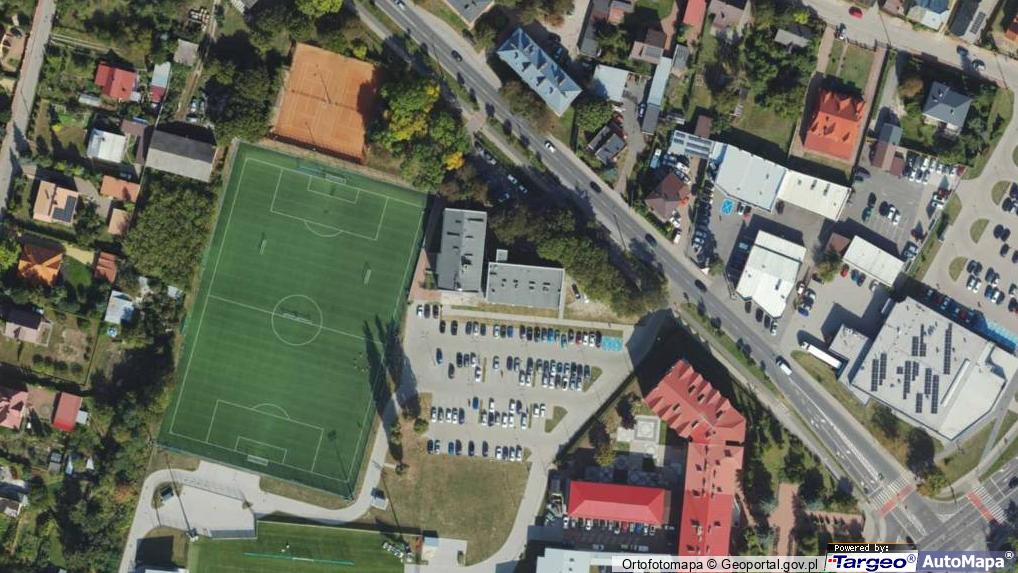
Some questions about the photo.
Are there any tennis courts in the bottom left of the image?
No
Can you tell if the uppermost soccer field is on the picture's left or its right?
left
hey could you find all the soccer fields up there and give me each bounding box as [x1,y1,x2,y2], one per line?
[189,522,424,573]
[157,140,427,499]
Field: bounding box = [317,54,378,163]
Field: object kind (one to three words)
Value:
tennis court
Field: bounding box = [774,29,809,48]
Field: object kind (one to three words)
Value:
shed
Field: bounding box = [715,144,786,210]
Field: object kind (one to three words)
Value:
building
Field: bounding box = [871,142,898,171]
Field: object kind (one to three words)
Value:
house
